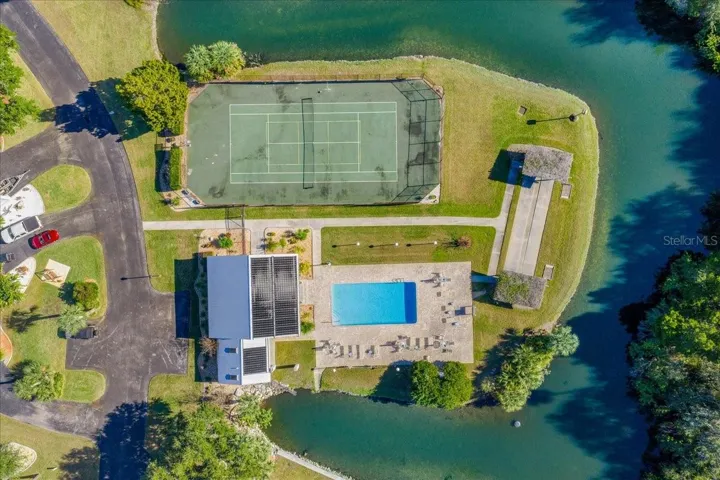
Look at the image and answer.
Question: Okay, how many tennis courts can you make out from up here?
one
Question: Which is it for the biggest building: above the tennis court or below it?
below it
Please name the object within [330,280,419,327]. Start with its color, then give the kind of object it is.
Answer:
blue swimming pool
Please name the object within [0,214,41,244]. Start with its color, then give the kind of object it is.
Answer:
white truck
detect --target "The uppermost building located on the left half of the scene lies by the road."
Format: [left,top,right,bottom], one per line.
[207,254,300,339]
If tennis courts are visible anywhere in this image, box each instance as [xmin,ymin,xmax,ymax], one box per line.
[186,79,442,207]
